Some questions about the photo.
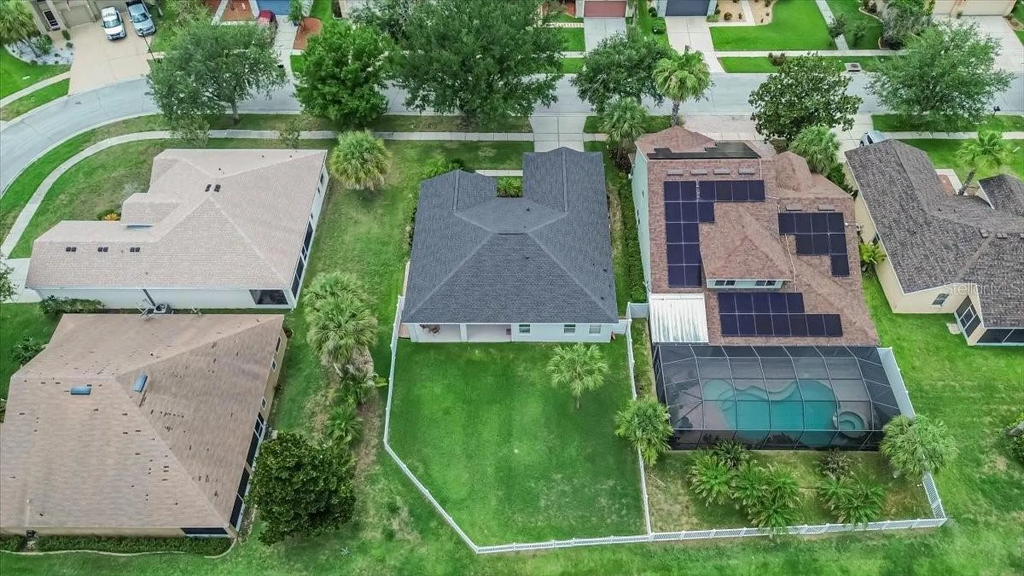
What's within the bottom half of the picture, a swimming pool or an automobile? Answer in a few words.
swimming pool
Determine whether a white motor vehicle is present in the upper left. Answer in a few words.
Yes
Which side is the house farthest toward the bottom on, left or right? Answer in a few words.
left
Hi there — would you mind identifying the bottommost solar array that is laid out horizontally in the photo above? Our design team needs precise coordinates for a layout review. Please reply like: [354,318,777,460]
[719,292,845,336]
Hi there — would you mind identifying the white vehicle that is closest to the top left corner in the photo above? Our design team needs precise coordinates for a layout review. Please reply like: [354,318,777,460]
[95,1,125,39]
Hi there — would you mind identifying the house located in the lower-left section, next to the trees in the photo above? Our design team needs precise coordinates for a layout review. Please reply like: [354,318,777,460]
[0,314,283,536]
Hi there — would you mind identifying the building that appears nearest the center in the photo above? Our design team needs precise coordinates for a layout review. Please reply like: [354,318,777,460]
[396,144,619,343]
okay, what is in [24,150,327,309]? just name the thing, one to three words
house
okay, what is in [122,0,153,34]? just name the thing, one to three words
truck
